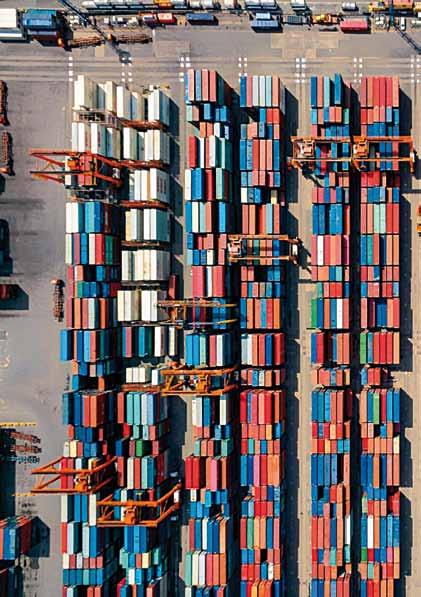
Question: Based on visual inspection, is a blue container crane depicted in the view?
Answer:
No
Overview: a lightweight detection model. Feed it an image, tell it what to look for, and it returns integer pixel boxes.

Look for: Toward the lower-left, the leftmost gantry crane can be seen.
[28,452,118,497]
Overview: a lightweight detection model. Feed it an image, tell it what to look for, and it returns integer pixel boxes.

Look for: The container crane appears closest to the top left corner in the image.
[28,147,125,189]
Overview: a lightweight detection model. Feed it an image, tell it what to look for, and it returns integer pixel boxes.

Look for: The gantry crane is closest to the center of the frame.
[160,297,240,328]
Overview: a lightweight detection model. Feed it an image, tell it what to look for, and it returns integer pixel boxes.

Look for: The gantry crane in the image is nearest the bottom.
[94,476,183,529]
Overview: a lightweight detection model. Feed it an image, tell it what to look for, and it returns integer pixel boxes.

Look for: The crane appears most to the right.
[353,134,416,178]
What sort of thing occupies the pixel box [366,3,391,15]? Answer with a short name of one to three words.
vehicle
